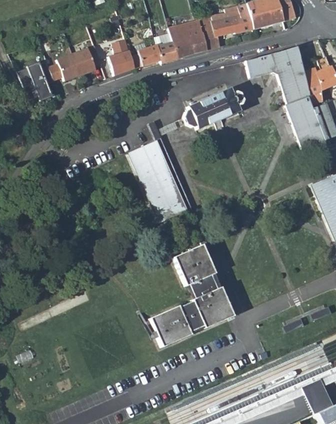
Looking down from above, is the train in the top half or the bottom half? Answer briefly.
bottom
